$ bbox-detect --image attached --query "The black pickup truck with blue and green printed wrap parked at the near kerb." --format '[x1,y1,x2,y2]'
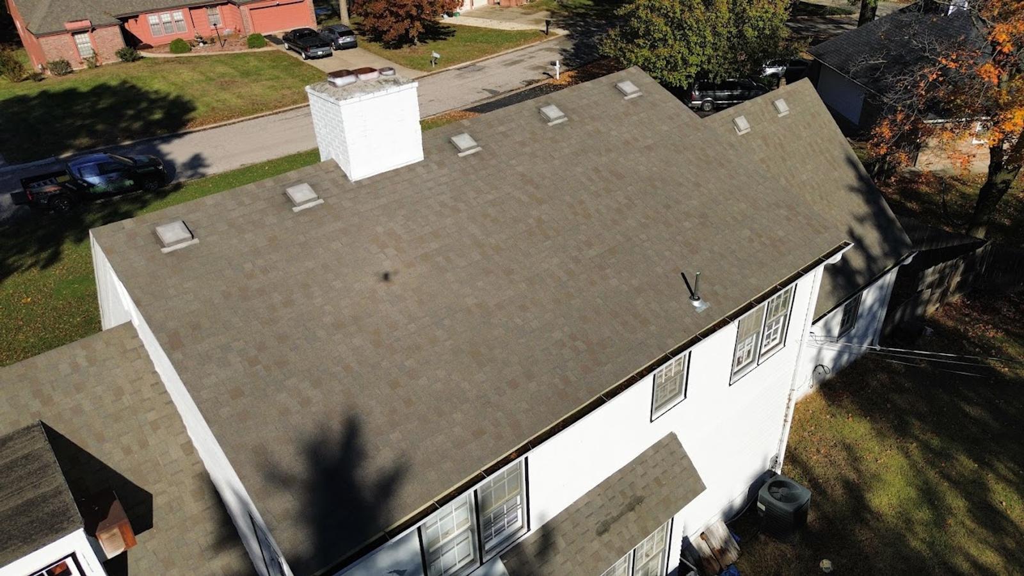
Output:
[1,140,178,212]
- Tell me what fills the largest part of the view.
buildings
